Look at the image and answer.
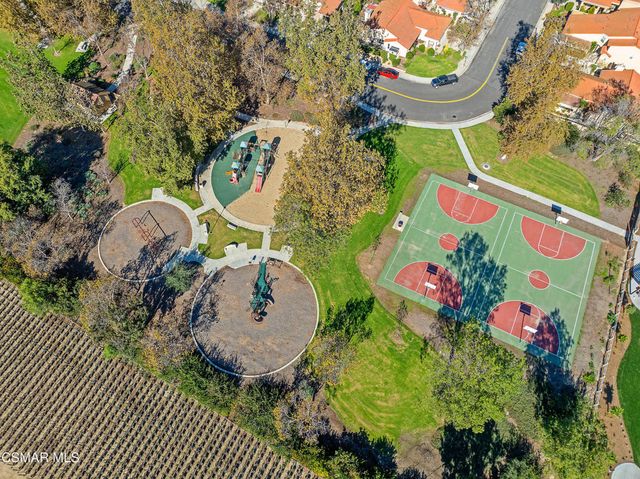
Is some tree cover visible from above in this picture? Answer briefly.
Yes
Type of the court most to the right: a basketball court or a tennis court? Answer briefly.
basketball court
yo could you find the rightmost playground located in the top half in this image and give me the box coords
[211,127,332,224]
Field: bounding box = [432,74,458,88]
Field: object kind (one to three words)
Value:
vehicle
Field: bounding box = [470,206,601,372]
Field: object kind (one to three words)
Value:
basketball court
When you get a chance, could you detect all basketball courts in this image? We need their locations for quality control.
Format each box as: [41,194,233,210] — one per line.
[470,206,601,372]
[378,174,512,326]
